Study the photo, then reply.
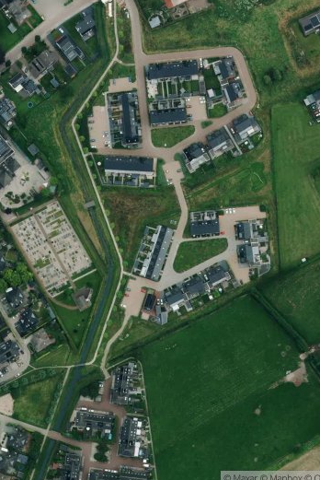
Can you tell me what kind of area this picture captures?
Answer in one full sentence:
What you see here is a residential area.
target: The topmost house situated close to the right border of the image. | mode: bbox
[298,10,320,33]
